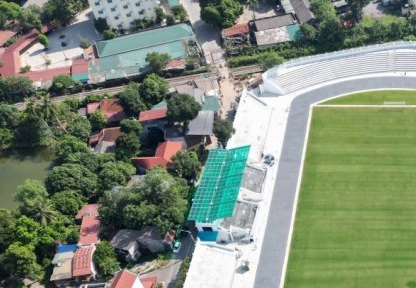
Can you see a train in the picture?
No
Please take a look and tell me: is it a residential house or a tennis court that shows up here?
residential house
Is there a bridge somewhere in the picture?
No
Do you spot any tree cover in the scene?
Yes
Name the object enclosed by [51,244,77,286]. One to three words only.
house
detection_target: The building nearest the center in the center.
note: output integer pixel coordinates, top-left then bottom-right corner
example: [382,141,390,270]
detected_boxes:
[186,111,216,141]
